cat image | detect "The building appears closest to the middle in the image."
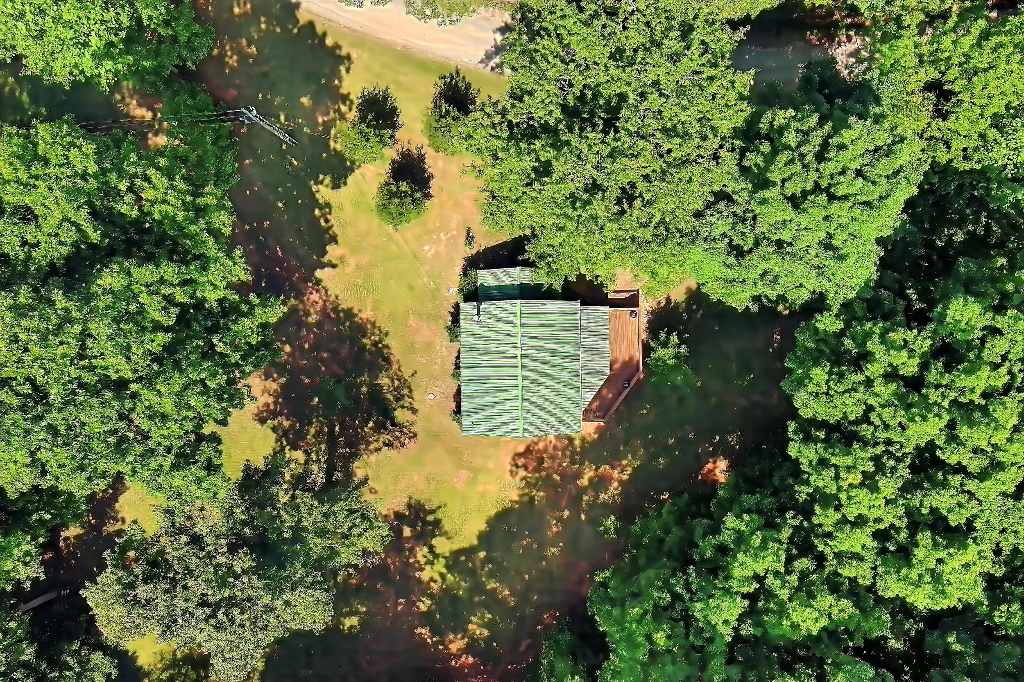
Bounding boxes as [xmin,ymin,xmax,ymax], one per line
[459,266,610,439]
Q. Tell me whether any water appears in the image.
No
